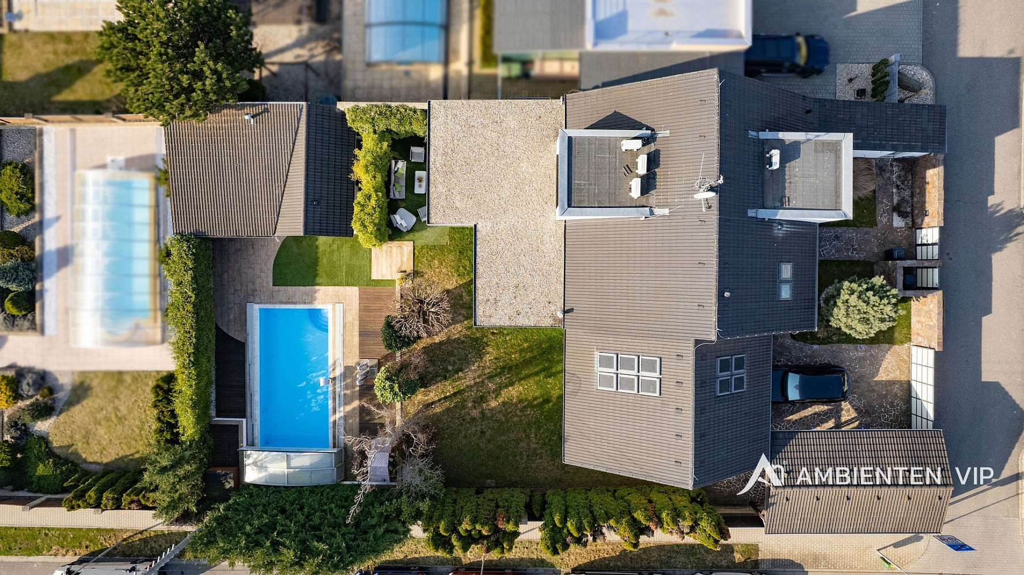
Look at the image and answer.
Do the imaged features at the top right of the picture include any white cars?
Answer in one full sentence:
No, the scene shows no white car at the top right of the picture.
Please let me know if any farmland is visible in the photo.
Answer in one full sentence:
No, no farmland is visible.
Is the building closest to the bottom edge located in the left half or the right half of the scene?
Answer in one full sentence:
The building closest to the bottom edge appears in the right half of the scene.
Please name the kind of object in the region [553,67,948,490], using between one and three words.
house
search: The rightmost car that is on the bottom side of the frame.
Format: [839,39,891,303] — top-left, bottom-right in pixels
[773,361,846,407]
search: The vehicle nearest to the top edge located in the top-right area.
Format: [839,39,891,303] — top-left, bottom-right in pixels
[744,30,825,79]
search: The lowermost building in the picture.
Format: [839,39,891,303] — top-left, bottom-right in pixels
[751,425,954,534]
